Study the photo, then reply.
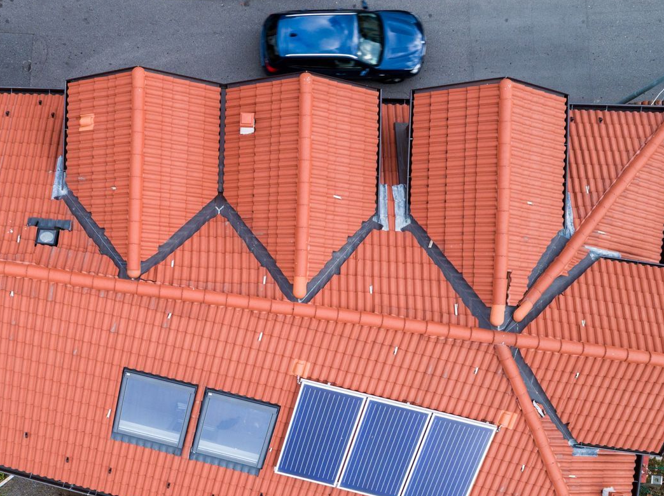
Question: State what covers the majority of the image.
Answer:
buildings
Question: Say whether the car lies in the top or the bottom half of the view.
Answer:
top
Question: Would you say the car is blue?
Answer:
Yes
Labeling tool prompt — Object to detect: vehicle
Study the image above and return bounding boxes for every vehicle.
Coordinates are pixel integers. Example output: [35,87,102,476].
[261,1,422,87]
